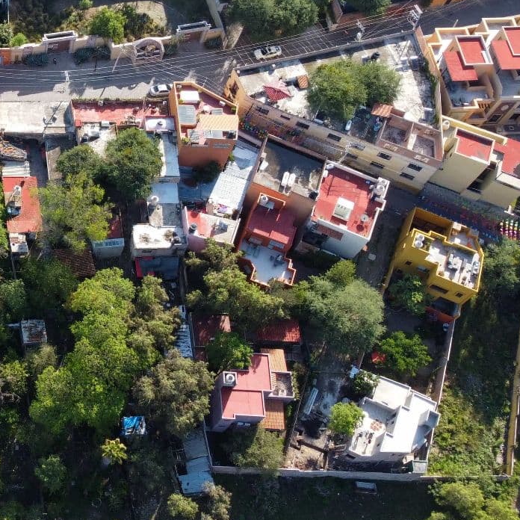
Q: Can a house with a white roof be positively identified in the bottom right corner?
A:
Yes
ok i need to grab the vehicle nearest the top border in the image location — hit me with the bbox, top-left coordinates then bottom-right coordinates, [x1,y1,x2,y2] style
[255,44,280,58]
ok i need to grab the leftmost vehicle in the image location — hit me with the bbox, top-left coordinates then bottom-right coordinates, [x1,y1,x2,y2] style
[147,85,171,98]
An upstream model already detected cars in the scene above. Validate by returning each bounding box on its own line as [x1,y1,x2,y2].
[255,44,280,58]
[147,85,171,98]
